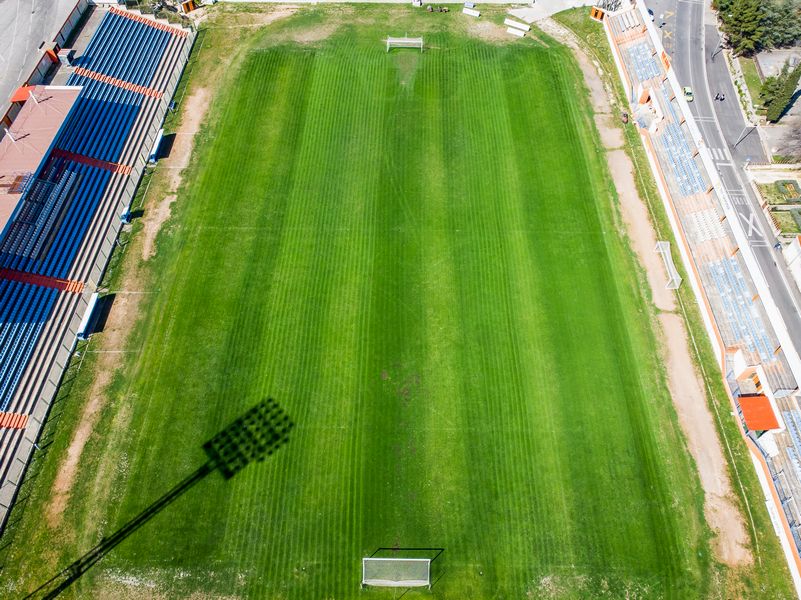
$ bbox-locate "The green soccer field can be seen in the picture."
[81,41,722,600]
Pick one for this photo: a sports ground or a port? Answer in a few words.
sports ground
